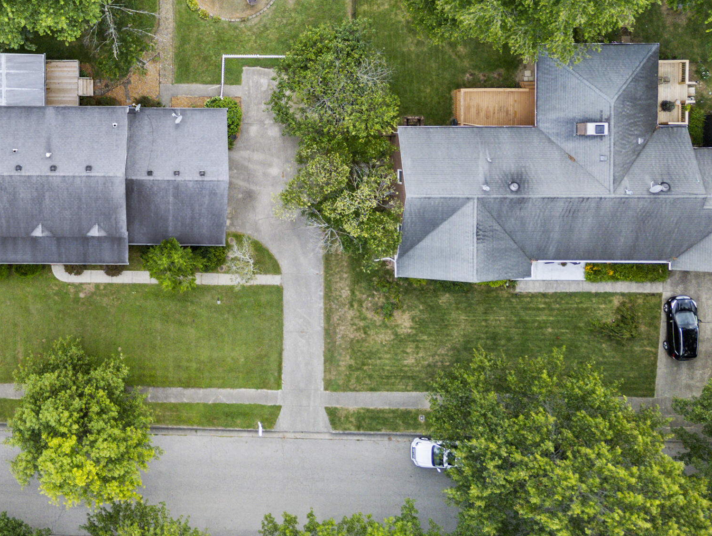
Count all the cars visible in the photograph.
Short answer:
2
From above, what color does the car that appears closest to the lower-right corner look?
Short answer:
black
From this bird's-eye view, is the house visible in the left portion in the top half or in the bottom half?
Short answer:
top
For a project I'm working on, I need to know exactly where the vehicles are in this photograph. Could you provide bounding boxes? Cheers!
[412,438,479,472]
[662,293,703,360]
